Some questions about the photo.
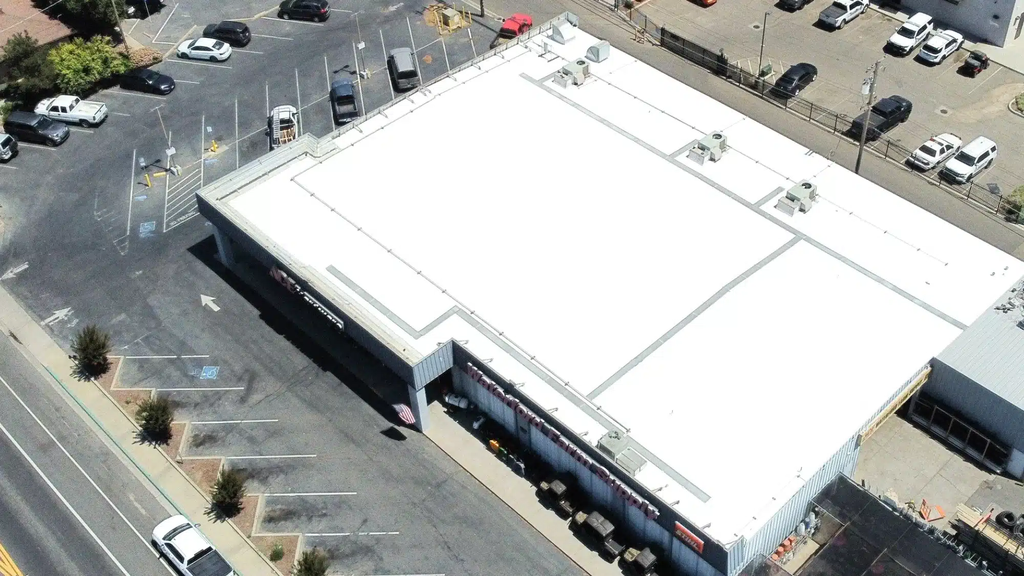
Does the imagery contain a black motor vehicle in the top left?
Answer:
Yes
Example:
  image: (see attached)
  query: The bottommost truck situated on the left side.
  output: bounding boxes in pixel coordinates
[154,516,242,576]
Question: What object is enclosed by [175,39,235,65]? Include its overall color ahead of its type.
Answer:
white car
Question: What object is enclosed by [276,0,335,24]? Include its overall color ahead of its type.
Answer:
black car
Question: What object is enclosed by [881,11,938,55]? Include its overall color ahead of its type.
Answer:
white car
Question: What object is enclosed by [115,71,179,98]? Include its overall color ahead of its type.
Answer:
black car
